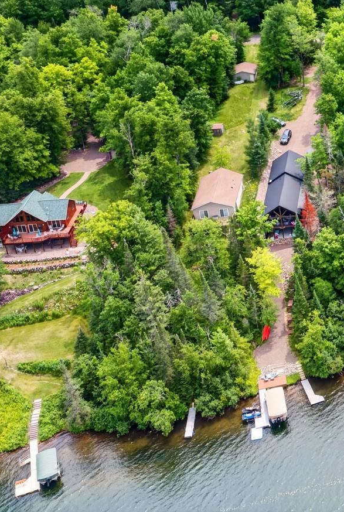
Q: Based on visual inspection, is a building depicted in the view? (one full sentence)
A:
Yes, there is a building in the image.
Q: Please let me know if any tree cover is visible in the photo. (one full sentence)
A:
Yes, some tree cover is visible.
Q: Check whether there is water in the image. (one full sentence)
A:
Yes, water shows up in the scene.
